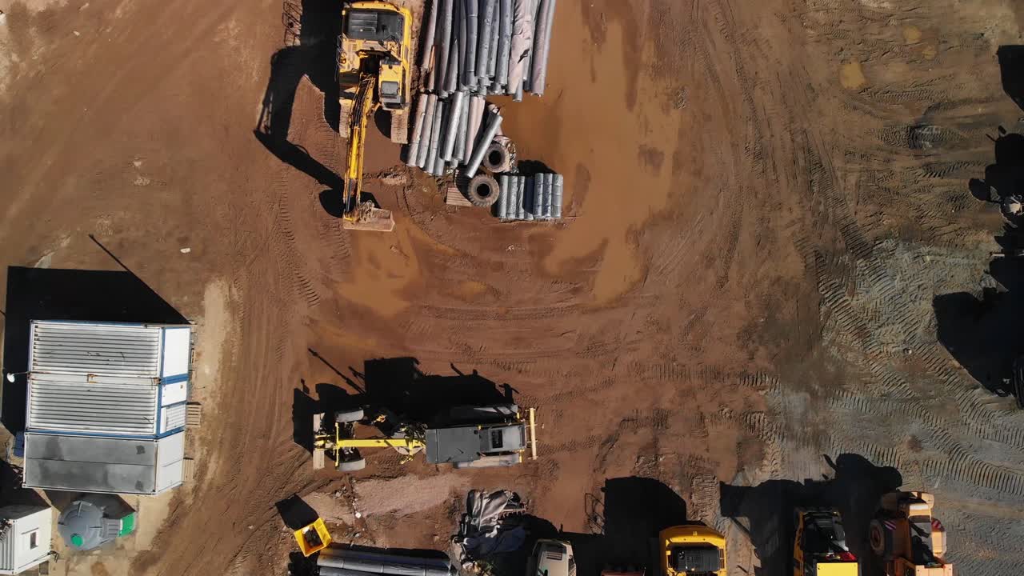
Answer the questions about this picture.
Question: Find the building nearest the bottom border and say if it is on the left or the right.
left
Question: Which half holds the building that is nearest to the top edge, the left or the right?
left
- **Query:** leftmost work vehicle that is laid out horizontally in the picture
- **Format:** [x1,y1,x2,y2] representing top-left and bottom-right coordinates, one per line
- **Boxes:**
[312,405,538,473]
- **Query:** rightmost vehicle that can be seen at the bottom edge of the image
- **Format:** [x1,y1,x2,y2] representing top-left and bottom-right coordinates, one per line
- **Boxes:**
[869,489,953,576]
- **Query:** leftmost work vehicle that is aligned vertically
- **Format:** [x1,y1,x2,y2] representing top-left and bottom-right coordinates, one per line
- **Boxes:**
[337,2,413,229]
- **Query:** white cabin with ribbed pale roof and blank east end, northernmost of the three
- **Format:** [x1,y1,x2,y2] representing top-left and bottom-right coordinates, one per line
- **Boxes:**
[30,319,192,381]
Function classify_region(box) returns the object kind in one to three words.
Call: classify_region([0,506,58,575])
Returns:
building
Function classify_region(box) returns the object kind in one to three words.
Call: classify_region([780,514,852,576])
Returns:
work vehicle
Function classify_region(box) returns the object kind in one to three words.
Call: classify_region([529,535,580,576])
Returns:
truck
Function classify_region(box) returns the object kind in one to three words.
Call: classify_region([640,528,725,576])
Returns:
work vehicle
